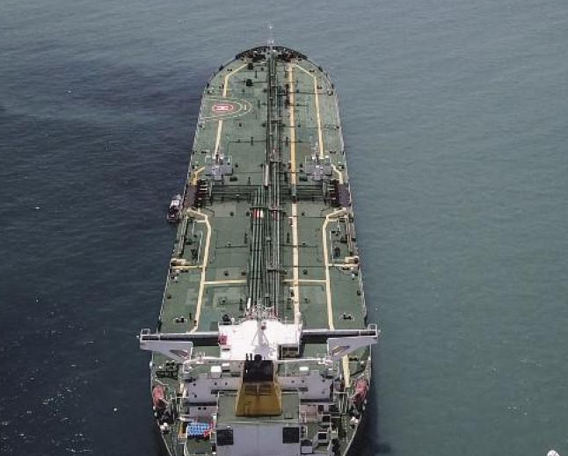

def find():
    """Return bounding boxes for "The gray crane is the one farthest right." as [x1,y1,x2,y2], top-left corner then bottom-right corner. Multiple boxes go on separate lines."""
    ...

[303,145,329,186]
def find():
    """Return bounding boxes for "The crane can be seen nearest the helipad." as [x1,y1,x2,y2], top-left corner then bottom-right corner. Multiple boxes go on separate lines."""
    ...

[203,146,231,187]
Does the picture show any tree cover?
No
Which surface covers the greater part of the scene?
water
